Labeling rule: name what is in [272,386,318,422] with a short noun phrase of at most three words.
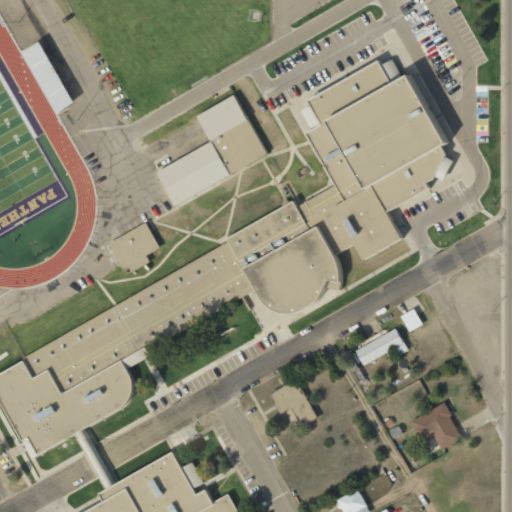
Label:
house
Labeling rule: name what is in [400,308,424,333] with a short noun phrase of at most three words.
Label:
building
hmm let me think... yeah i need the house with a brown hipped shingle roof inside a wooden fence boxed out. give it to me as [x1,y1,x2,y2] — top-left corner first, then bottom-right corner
[412,406,464,452]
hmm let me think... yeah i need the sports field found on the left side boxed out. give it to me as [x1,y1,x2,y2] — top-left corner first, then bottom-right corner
[0,54,76,266]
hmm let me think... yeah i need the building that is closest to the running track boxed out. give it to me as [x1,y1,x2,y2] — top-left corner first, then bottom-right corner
[110,223,161,272]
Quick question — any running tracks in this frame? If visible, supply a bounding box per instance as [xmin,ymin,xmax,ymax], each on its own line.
[0,8,98,288]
